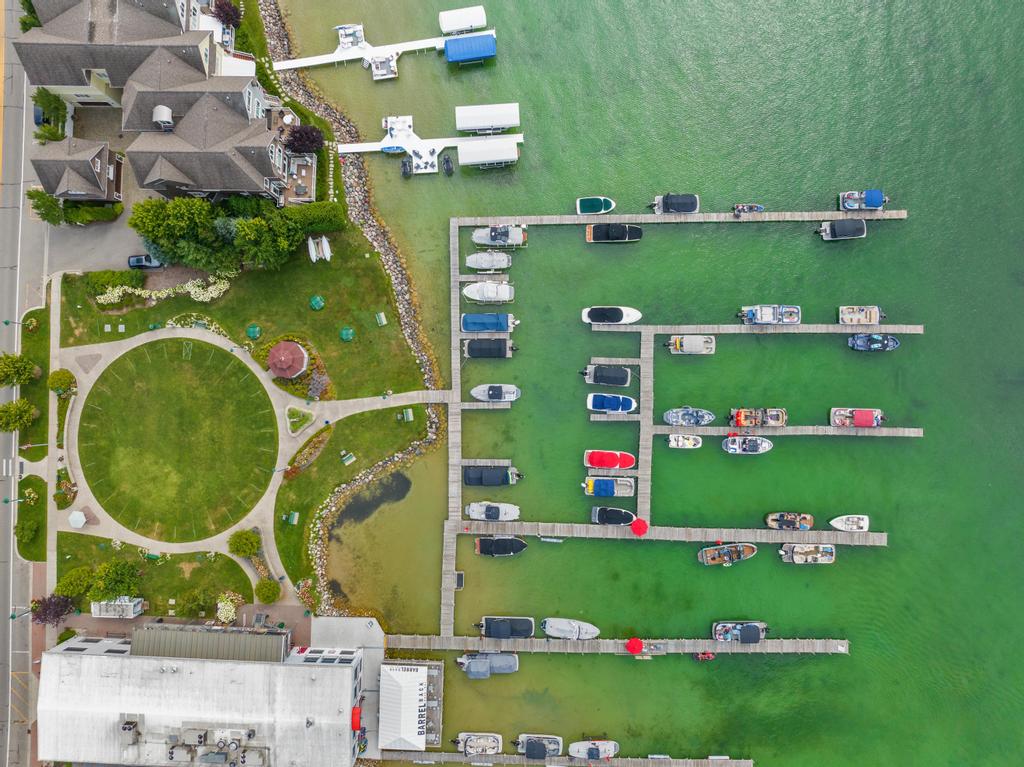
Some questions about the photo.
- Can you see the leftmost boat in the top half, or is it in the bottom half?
top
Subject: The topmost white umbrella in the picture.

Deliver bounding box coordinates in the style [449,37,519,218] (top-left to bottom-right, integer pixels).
[70,510,91,528]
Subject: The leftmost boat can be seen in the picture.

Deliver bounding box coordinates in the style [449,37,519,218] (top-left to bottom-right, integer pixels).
[306,234,330,263]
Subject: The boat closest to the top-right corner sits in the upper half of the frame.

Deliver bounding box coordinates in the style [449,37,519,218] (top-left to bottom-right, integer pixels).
[838,190,891,212]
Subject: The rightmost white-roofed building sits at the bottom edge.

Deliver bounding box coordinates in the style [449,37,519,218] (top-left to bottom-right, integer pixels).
[379,660,443,752]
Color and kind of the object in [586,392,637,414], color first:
blue boat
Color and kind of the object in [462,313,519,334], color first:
blue boat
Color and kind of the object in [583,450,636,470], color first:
red boat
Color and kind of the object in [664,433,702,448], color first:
white boat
